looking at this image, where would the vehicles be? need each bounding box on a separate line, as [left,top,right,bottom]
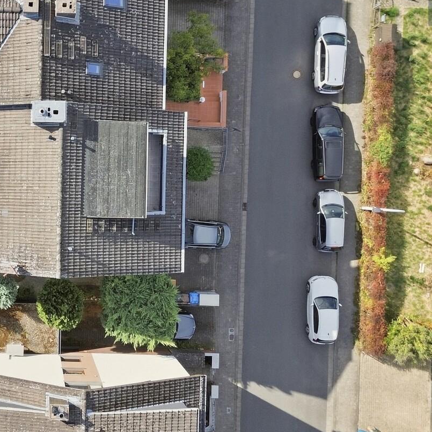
[310,105,348,180]
[170,310,194,342]
[311,189,348,253]
[312,17,350,94]
[187,220,231,249]
[305,275,342,344]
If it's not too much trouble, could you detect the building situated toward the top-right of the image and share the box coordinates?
[374,21,397,40]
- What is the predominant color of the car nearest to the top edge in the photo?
white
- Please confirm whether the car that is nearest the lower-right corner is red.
No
